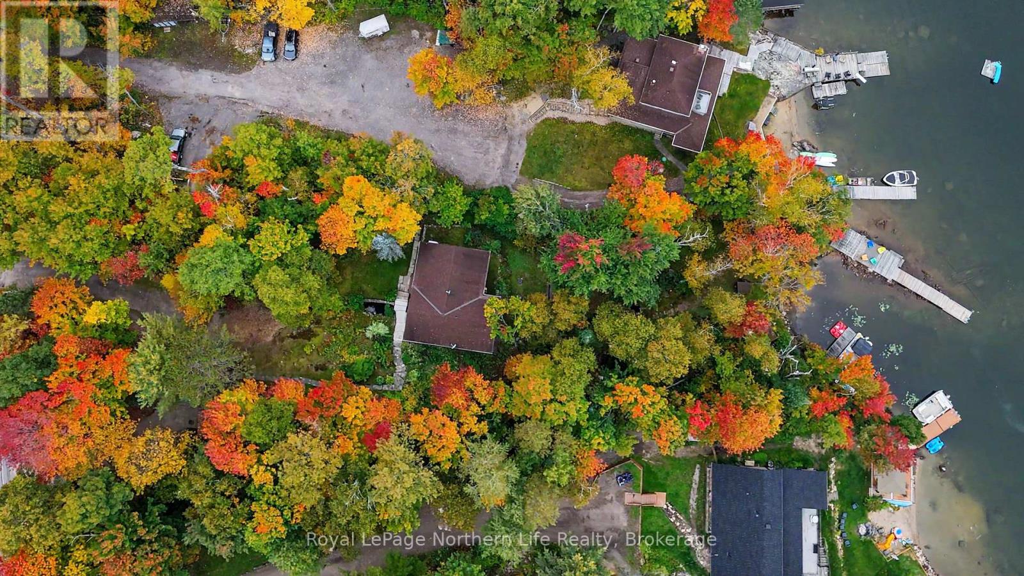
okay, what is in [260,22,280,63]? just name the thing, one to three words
vehicle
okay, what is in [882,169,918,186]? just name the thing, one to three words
boat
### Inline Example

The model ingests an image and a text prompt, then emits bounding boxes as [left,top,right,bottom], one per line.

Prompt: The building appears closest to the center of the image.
[403,241,502,354]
